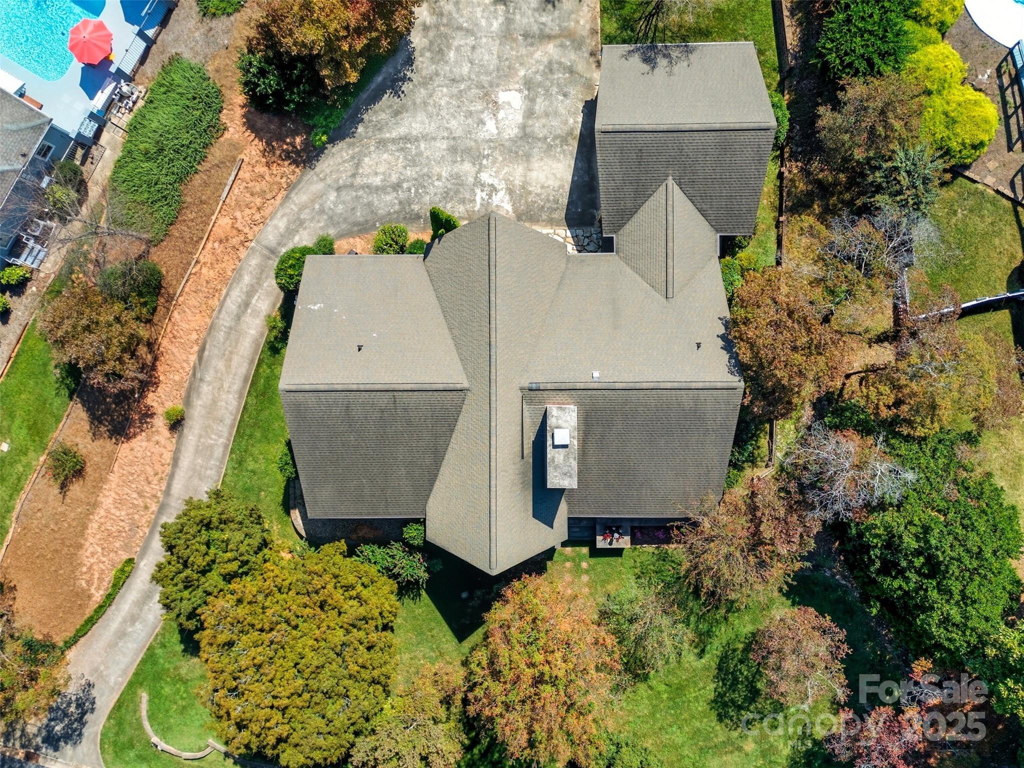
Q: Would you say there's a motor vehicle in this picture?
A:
No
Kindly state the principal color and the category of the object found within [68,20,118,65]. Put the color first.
red umbrella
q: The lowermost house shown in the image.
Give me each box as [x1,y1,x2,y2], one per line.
[278,177,745,576]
